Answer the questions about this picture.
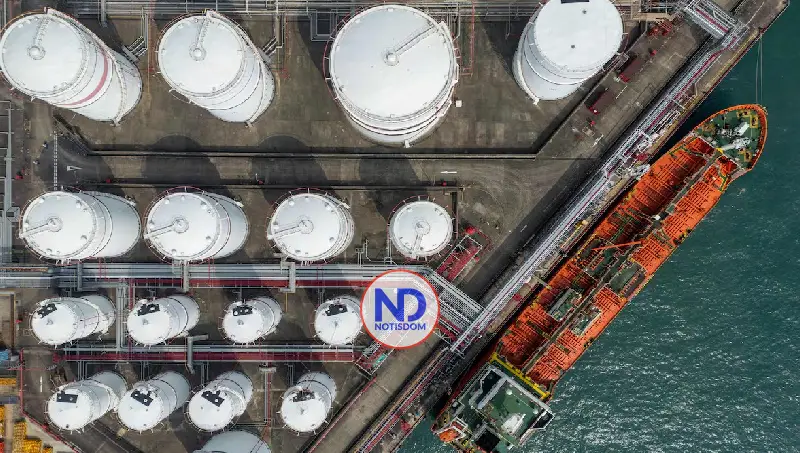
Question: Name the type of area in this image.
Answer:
industrial area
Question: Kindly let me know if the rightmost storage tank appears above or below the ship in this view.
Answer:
above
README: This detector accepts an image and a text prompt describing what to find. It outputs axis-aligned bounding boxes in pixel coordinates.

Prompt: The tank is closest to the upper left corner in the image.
[0,8,147,123]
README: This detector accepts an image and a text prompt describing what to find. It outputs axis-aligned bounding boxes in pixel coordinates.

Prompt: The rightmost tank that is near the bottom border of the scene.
[277,370,337,437]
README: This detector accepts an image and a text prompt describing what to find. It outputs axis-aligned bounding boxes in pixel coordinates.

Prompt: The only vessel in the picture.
[424,97,771,453]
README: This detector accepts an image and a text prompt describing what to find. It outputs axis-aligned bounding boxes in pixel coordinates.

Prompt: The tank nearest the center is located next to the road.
[385,197,457,262]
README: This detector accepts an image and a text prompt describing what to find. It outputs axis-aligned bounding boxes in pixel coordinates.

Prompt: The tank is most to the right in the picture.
[509,0,627,102]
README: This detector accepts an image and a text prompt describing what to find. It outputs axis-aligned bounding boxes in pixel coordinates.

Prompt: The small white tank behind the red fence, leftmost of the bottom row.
[45,369,129,435]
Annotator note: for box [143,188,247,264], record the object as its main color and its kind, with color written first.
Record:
white storage tank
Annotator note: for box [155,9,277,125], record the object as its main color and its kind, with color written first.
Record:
white storage tank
